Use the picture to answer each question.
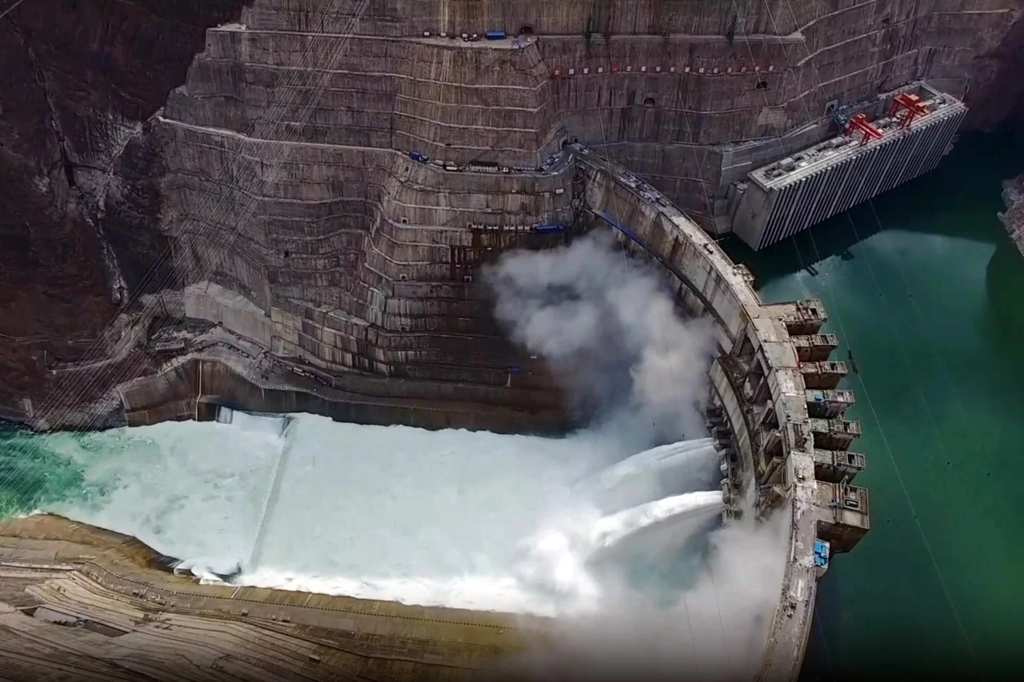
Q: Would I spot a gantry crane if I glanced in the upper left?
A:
No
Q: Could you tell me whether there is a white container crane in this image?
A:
No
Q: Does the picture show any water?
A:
Yes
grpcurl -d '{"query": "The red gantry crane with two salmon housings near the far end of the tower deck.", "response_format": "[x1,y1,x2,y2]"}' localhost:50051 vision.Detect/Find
[894,80,949,123]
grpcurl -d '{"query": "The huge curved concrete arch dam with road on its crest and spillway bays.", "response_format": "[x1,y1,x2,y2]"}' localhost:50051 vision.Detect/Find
[562,145,871,682]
